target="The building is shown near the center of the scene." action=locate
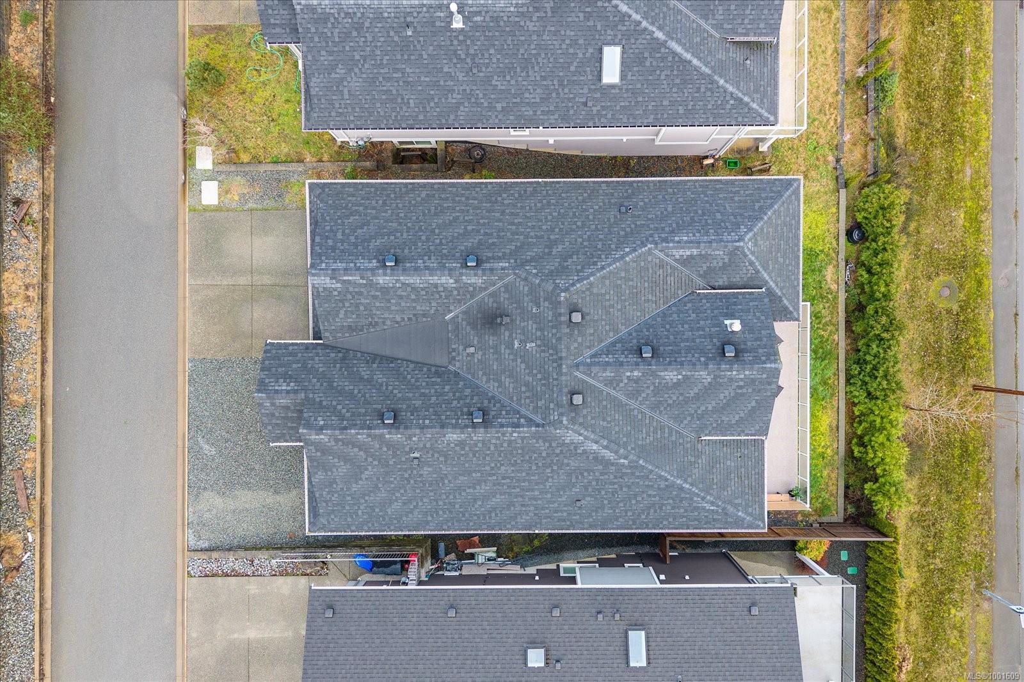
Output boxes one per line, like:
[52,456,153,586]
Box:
[256,176,817,535]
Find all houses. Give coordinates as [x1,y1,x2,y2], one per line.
[256,176,817,535]
[259,0,807,164]
[303,549,854,682]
